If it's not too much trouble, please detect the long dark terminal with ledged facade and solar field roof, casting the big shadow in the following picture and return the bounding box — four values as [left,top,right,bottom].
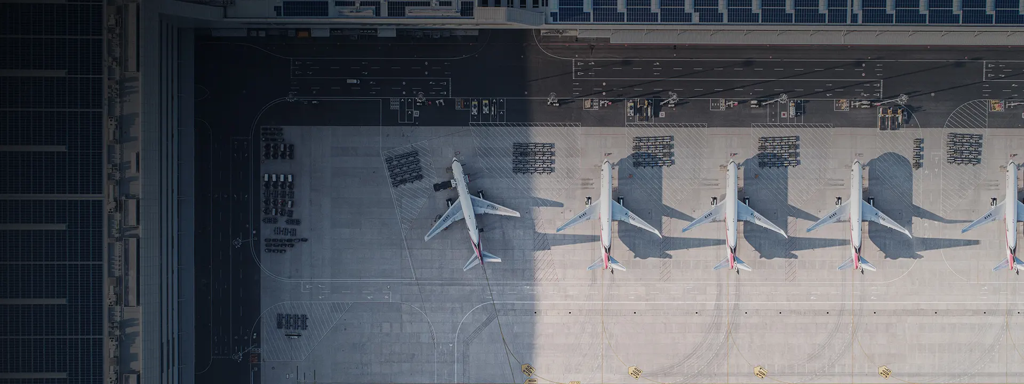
[0,0,195,384]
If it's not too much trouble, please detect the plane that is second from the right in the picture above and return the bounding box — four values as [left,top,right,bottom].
[807,160,917,274]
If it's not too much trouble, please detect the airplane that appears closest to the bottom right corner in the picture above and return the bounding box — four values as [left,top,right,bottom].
[964,161,1024,272]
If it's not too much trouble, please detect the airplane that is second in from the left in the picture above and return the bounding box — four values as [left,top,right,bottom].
[554,159,663,272]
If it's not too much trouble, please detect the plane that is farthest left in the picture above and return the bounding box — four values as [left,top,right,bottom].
[423,158,521,271]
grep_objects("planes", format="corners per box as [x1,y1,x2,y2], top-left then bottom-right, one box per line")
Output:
[554,159,663,272]
[964,161,1024,272]
[682,160,791,273]
[423,158,521,271]
[807,160,917,274]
